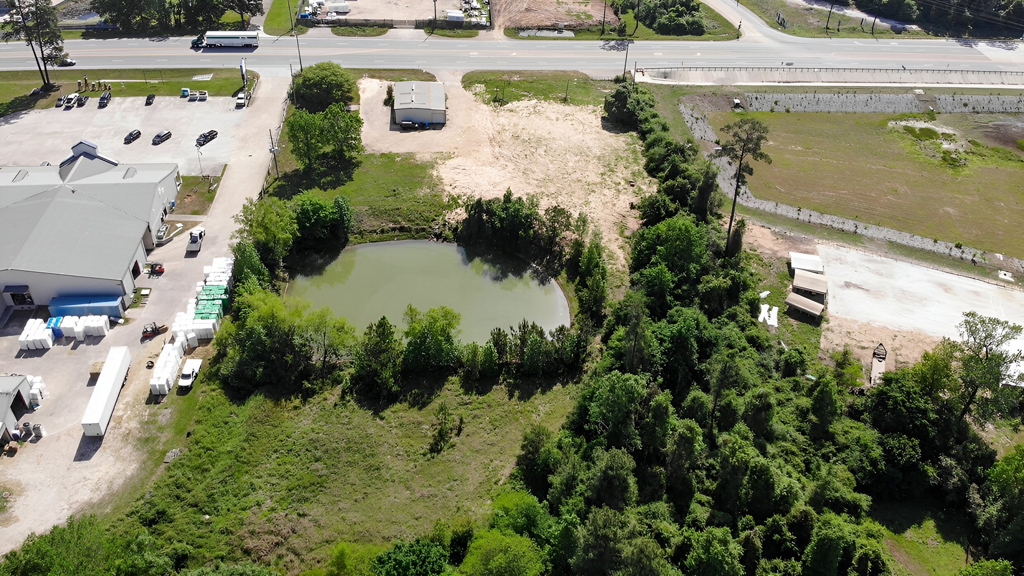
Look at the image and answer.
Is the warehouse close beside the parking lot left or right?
left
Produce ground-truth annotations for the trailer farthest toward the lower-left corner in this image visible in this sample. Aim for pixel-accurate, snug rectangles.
[81,347,133,436]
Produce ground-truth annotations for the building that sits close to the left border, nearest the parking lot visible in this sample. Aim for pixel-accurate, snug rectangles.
[0,138,176,323]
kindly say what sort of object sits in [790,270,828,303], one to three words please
shed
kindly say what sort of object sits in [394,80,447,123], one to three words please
shed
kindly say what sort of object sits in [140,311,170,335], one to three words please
work vehicle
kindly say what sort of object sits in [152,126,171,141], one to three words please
car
